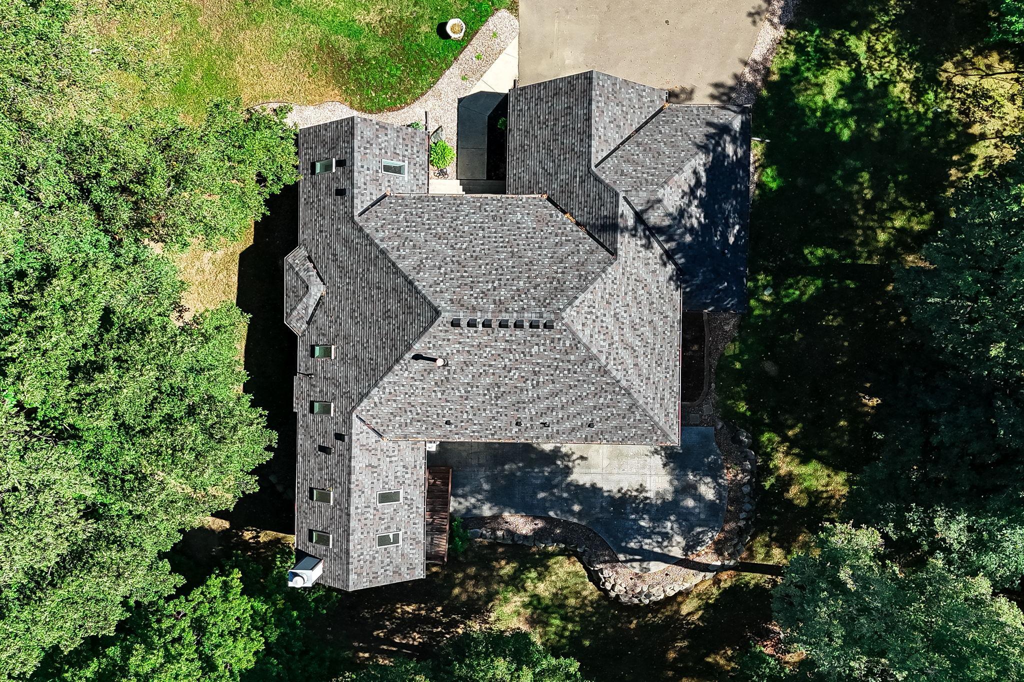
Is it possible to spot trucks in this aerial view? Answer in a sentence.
No, the photo shows no truck.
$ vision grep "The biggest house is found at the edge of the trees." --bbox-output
[282,68,755,591]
